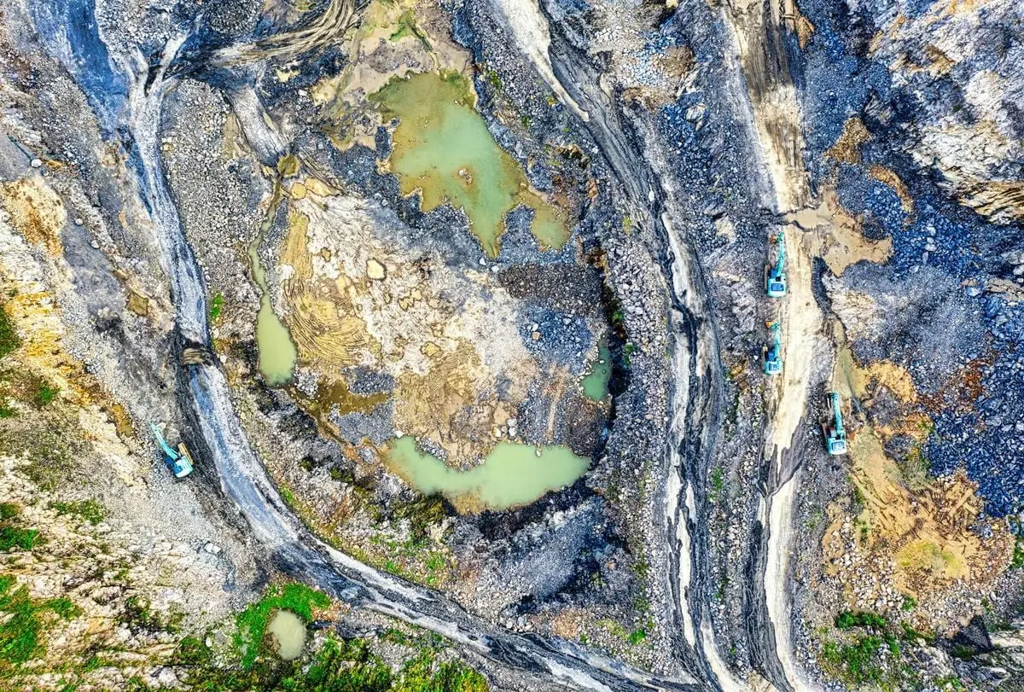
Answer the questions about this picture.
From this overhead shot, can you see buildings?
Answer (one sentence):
No, no building is visible in the view.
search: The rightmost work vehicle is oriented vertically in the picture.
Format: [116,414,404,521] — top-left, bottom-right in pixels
[822,396,851,459]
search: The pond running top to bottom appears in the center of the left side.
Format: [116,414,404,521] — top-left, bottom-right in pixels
[250,185,298,385]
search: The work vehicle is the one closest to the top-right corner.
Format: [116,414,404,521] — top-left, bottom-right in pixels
[763,228,791,298]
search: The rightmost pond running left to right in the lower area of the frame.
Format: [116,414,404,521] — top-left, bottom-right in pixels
[389,435,585,514]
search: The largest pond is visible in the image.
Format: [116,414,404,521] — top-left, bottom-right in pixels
[371,76,568,258]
